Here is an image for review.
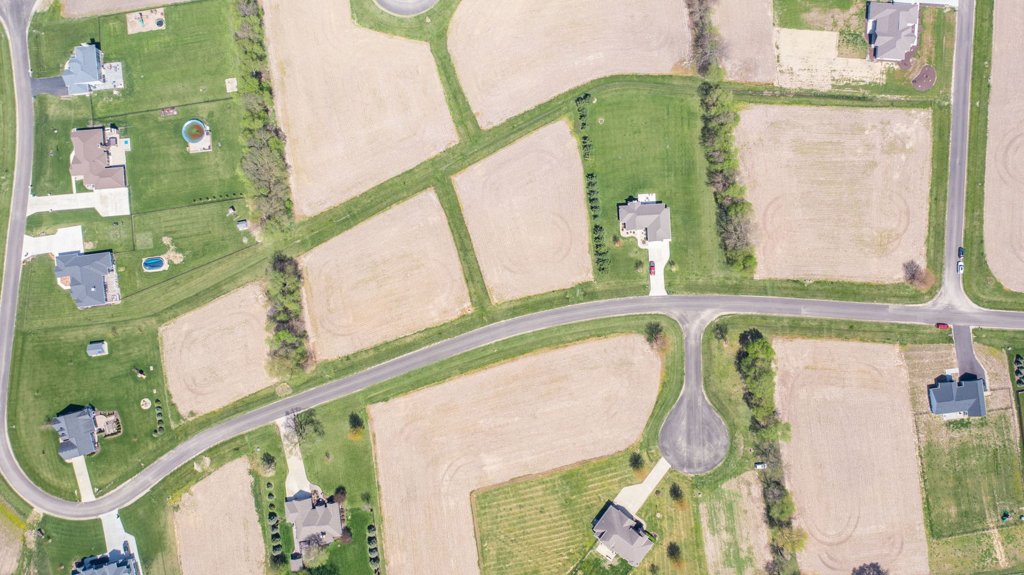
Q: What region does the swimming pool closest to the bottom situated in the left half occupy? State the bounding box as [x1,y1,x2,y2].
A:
[141,256,169,272]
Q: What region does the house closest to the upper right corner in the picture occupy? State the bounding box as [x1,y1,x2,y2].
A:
[867,0,919,61]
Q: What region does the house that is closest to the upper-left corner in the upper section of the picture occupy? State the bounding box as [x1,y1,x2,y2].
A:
[63,41,105,95]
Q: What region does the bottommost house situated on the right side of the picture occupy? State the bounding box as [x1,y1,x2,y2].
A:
[594,504,653,569]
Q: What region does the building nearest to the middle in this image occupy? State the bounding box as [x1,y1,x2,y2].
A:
[618,202,671,242]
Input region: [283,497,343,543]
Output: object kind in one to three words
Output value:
house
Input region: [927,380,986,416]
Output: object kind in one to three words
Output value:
house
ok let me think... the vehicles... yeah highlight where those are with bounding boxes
[650,261,656,275]
[936,323,949,329]
[754,463,767,469]
[958,262,965,274]
[959,247,966,258]
[123,542,131,558]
